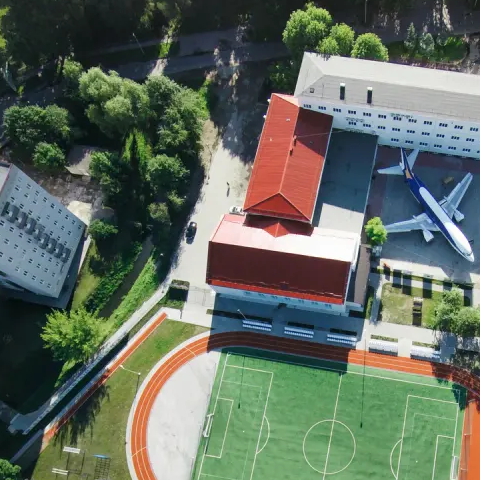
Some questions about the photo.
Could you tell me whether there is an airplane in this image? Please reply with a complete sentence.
Yes, the photo shows an airplane.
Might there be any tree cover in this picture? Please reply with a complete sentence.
Yes, there is tree cover in the image.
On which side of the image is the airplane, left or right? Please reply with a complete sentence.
It is on the right.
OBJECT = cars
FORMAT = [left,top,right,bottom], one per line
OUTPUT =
[184,221,197,240]
[227,203,244,215]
